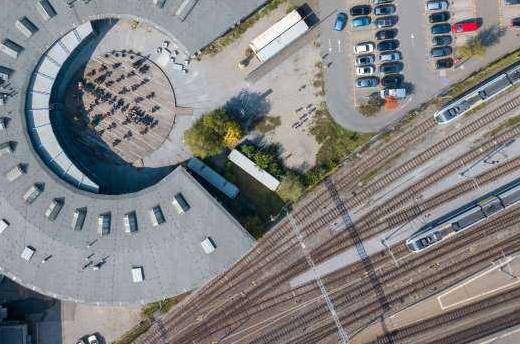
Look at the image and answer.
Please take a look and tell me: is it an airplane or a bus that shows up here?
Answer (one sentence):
The image shows a bus.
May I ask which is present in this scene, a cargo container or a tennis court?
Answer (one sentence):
Of the two, only a cargo container appears.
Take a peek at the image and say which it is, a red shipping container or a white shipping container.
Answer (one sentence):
This aerial view contains a white shipping container.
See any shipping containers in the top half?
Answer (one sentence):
Yes, you'll find a shipping container in the top half.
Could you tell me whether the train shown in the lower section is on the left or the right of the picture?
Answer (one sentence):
You can find the train shown in the lower section on the right side of the picture.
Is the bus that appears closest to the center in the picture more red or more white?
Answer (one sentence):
The bus that appears closest to the center looks white in the image.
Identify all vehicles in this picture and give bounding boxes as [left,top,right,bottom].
[84,329,99,344]
[429,11,450,22]
[352,16,372,26]
[431,46,452,57]
[452,21,479,33]
[381,76,404,86]
[334,12,347,31]
[509,19,520,27]
[351,5,371,15]
[376,29,398,39]
[354,43,375,53]
[377,40,400,50]
[355,76,379,86]
[229,149,278,190]
[436,59,453,68]
[379,51,402,62]
[432,35,452,45]
[427,0,449,10]
[380,63,403,73]
[356,65,374,75]
[374,4,396,14]
[356,54,376,64]
[381,88,406,98]
[431,23,451,33]
[375,16,398,28]
[188,156,239,198]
